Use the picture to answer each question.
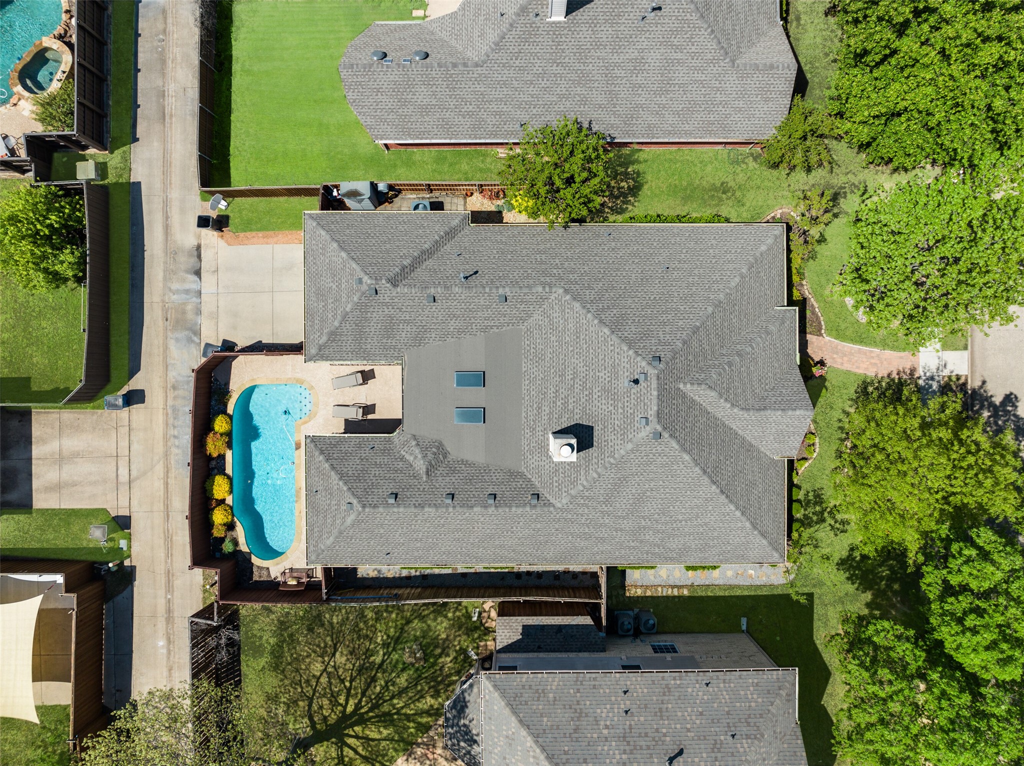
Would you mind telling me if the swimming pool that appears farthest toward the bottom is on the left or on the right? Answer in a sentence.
The swimming pool that appears farthest toward the bottom is on the left side of the image.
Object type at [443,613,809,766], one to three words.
house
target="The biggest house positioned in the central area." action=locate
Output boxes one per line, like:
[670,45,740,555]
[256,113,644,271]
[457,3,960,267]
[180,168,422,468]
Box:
[302,210,815,567]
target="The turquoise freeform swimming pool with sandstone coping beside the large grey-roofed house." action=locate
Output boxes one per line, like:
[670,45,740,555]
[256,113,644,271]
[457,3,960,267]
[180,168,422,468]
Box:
[226,377,319,567]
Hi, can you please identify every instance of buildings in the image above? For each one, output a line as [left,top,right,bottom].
[340,0,797,152]
[443,613,809,766]
[302,210,815,567]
